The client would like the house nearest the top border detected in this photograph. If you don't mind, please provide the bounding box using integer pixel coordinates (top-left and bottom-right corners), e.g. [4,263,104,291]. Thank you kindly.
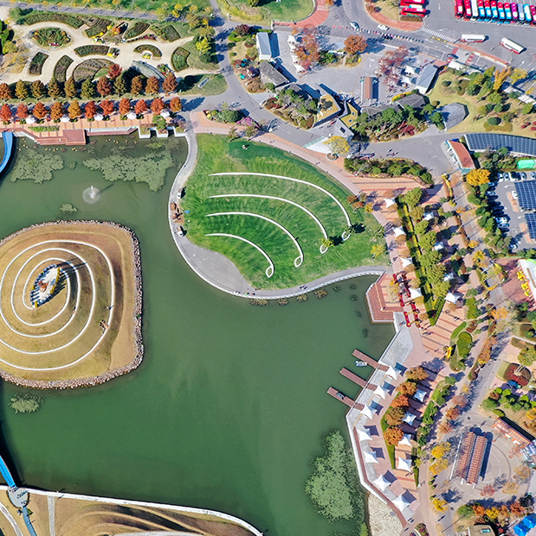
[255,30,271,62]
